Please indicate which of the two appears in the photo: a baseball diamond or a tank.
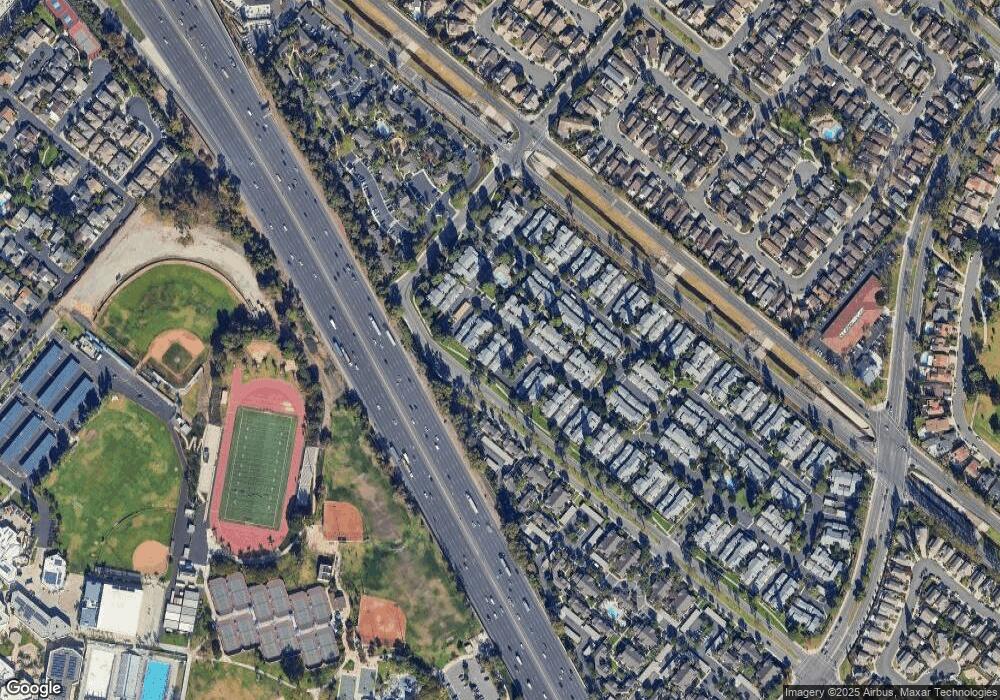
baseball diamond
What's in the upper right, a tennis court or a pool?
pool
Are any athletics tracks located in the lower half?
Yes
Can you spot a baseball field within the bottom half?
Yes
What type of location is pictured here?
residential area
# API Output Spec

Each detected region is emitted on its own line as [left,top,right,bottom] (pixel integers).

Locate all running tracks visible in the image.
[209,368,306,555]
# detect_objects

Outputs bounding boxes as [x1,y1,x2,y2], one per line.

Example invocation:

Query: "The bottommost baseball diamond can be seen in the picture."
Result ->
[358,596,405,644]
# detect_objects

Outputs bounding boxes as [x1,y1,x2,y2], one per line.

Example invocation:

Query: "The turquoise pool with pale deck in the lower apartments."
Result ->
[604,599,622,620]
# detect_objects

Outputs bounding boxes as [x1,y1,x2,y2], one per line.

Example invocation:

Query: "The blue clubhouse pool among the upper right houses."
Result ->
[812,122,842,142]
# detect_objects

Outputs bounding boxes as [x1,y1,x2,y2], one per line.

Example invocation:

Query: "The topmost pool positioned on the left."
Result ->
[374,118,396,138]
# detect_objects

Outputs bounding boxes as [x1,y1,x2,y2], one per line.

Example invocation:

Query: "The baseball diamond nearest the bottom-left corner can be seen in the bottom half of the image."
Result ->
[46,397,180,575]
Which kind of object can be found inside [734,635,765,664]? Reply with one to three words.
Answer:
building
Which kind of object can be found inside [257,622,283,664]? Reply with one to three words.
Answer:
tennis court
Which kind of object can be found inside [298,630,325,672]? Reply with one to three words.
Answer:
tennis court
